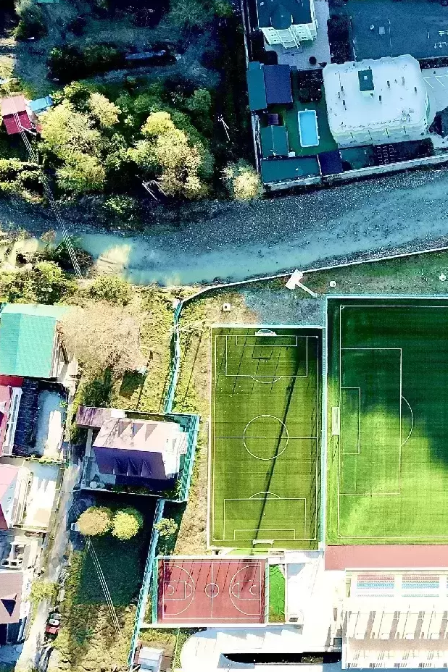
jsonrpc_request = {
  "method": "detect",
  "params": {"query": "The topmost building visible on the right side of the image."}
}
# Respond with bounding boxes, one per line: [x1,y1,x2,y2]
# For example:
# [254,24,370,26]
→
[257,0,318,52]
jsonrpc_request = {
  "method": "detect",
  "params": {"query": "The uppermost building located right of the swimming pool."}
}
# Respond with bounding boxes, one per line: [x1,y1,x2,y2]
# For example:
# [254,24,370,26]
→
[323,53,432,151]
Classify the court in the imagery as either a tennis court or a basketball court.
basketball court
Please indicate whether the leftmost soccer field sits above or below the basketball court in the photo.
above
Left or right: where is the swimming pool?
right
